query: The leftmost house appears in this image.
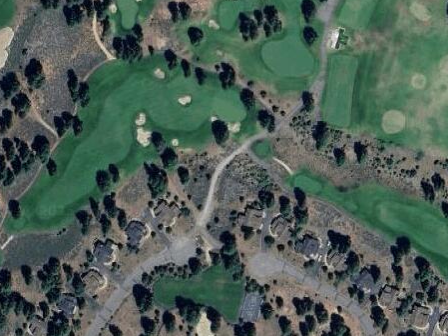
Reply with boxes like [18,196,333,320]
[22,316,50,336]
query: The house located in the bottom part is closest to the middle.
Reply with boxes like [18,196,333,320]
[237,204,266,228]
